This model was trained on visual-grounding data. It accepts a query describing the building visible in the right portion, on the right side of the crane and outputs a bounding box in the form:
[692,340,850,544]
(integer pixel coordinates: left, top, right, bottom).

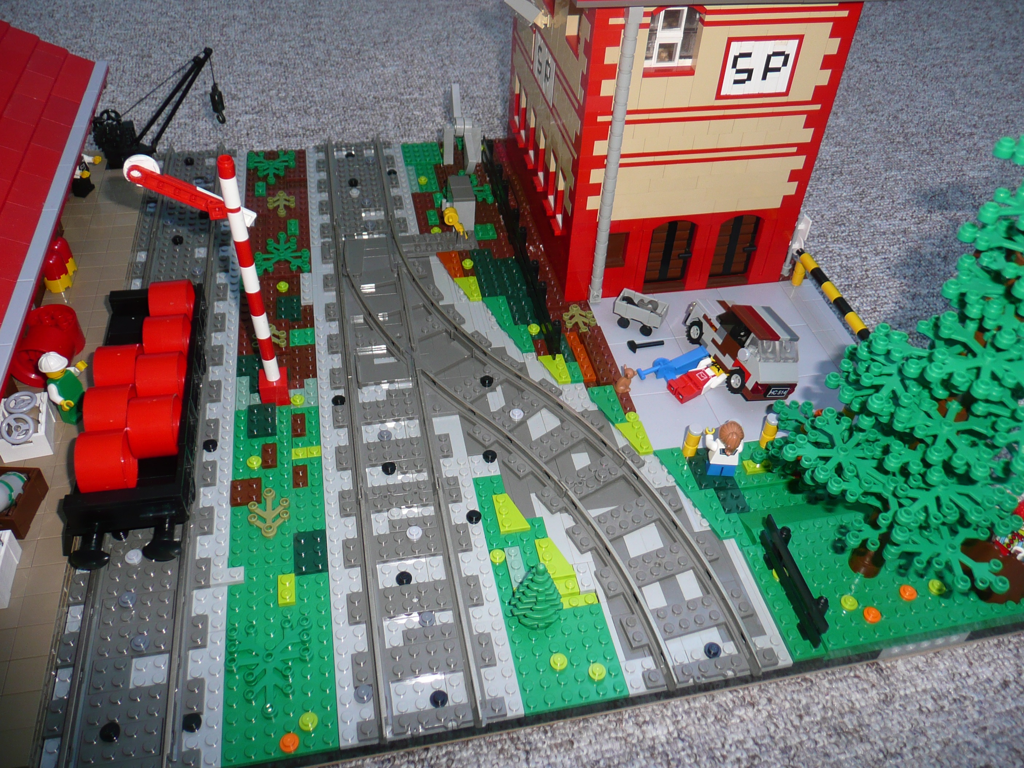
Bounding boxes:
[502,0,912,299]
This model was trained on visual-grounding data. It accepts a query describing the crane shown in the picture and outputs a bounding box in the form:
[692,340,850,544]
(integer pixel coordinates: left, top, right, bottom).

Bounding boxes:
[93,45,231,172]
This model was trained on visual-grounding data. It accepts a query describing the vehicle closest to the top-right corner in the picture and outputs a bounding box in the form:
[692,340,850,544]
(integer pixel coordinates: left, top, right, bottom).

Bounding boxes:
[684,300,794,408]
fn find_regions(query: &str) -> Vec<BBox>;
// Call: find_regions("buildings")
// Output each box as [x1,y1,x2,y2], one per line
[502,0,912,299]
[0,23,111,429]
